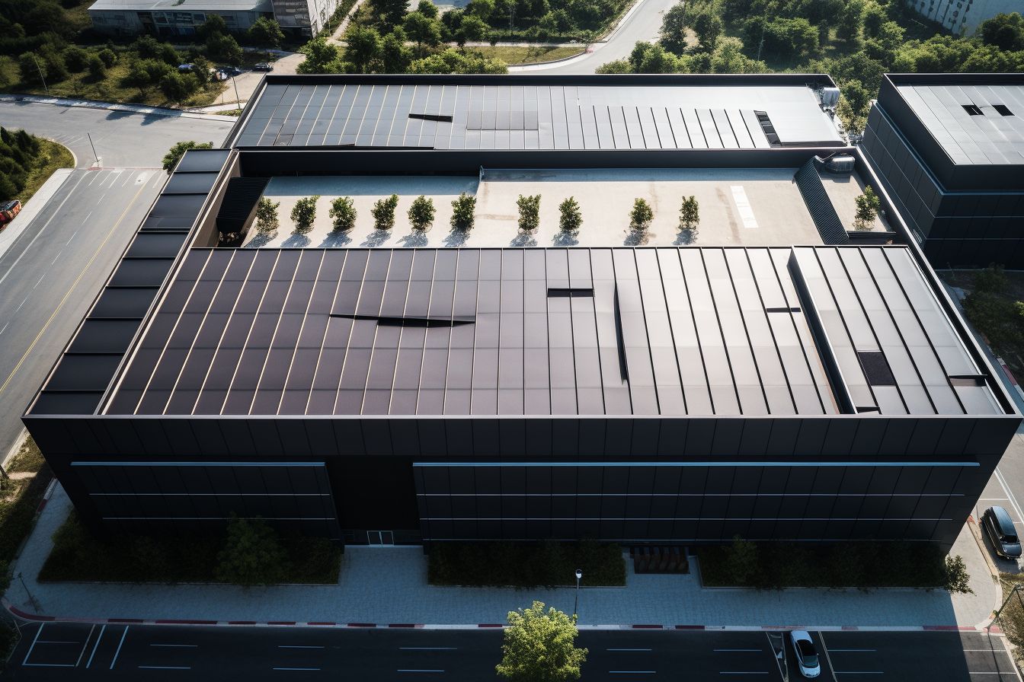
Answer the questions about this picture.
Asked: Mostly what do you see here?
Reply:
buildings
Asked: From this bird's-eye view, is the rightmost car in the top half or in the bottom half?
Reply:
bottom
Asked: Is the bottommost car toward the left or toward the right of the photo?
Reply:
right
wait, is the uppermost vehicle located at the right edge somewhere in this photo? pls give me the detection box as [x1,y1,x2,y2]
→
[974,510,1021,563]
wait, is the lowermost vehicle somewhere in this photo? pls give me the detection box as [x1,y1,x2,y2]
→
[786,631,822,681]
